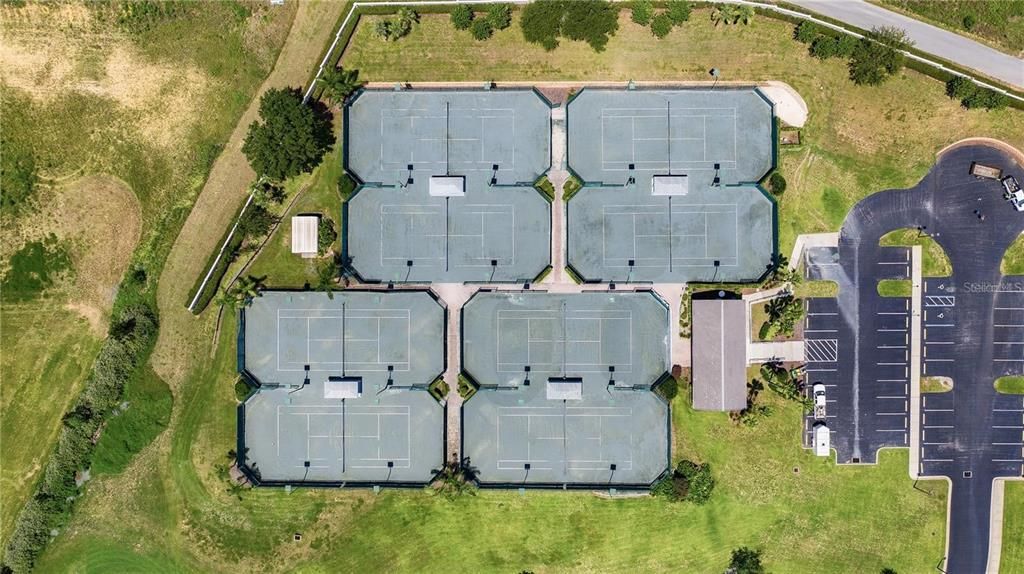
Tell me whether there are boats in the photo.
No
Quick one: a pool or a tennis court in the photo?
tennis court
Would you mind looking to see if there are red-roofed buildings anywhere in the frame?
No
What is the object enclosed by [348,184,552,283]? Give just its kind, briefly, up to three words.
tennis court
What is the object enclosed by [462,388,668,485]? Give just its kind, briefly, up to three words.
tennis court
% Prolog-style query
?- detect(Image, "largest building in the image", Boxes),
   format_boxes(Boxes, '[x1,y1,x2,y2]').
[690,300,747,412]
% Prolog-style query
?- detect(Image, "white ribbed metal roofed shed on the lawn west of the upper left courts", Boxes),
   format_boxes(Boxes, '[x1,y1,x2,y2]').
[293,217,321,260]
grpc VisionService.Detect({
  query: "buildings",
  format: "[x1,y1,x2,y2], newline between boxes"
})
[690,300,747,412]
[293,217,321,260]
